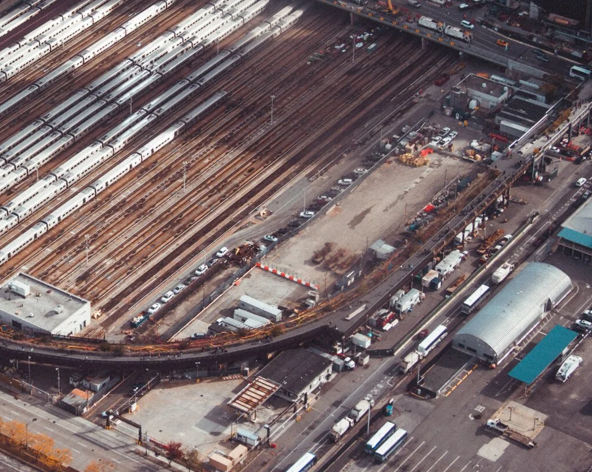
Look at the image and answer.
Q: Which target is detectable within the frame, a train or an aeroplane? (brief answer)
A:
train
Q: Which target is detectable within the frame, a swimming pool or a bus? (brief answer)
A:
bus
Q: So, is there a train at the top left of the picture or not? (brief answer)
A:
Yes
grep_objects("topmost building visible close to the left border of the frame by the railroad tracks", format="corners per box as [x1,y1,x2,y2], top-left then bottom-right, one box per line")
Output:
[0,273,89,333]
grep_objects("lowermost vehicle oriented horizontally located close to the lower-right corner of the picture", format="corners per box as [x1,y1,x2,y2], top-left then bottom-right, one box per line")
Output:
[488,425,533,440]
